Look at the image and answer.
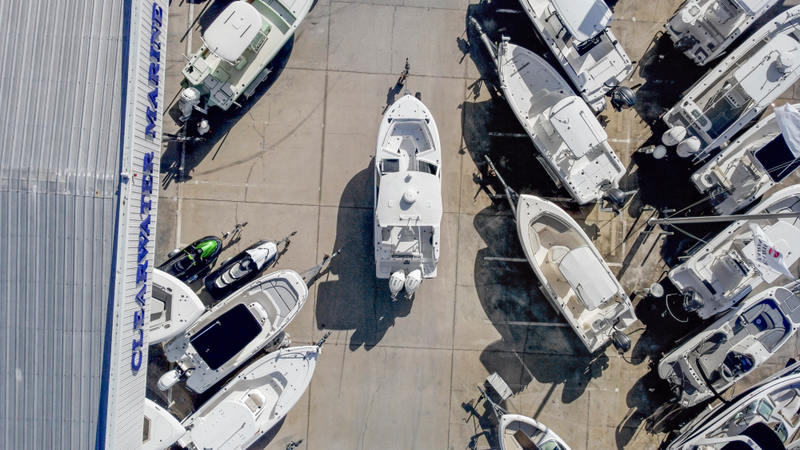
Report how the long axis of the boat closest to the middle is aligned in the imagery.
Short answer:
vertically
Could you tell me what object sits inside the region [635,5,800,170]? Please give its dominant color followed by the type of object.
white boat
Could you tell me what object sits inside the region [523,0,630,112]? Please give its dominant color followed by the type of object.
white boat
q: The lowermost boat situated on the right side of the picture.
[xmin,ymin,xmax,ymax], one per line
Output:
[499,410,570,450]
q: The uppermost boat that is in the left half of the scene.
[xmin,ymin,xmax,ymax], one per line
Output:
[177,0,312,112]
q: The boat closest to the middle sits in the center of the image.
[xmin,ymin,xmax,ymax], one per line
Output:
[374,91,441,305]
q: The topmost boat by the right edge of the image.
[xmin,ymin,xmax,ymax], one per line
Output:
[662,0,780,68]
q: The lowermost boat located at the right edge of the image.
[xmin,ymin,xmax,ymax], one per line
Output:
[648,359,800,450]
